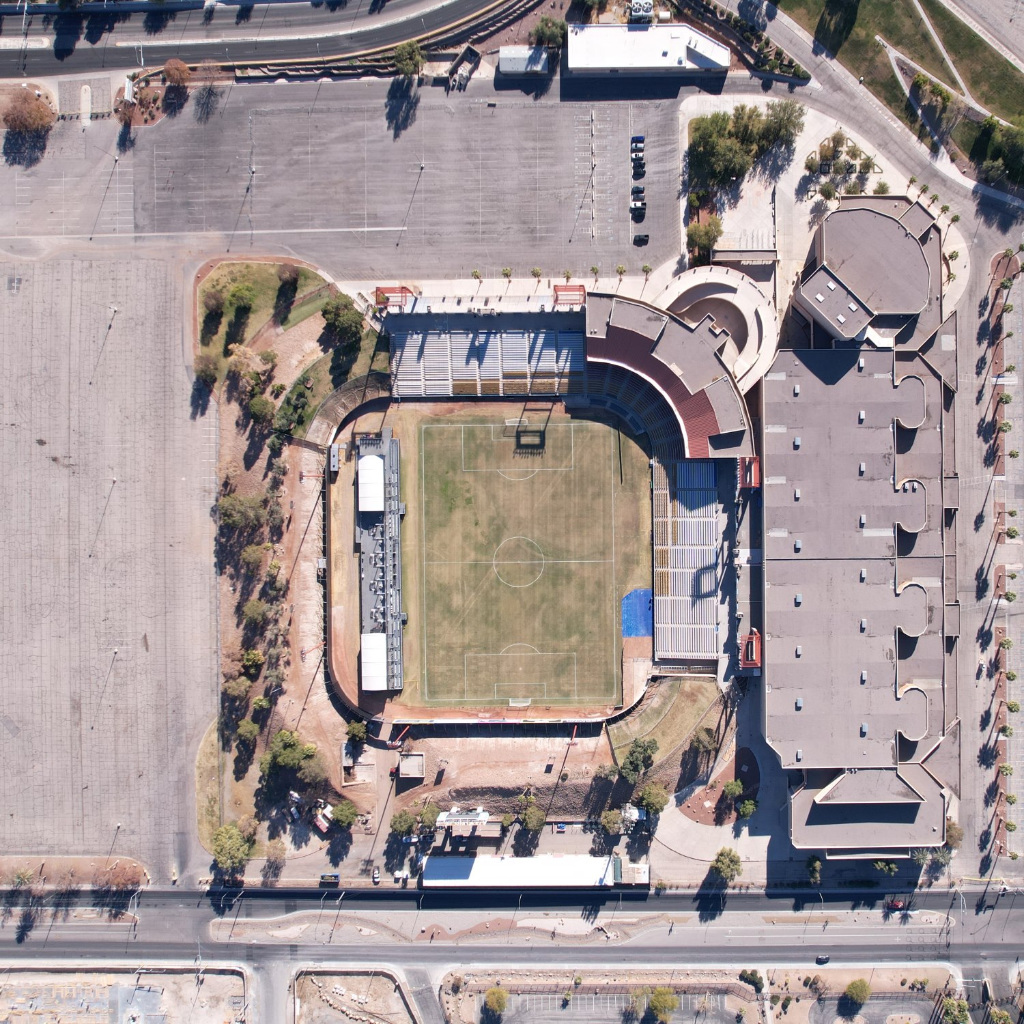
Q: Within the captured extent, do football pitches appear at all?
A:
Yes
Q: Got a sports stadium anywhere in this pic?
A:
Yes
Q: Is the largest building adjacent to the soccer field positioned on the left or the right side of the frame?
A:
right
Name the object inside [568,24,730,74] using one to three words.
building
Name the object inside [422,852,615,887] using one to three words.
shed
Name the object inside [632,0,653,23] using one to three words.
cooling tower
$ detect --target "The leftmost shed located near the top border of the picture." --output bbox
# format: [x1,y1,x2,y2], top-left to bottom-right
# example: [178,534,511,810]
[499,45,549,78]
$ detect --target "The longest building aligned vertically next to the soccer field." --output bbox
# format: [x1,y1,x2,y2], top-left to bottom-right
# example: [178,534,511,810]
[758,312,960,858]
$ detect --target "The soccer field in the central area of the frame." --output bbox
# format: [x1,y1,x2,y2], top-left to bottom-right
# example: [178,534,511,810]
[417,411,653,708]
